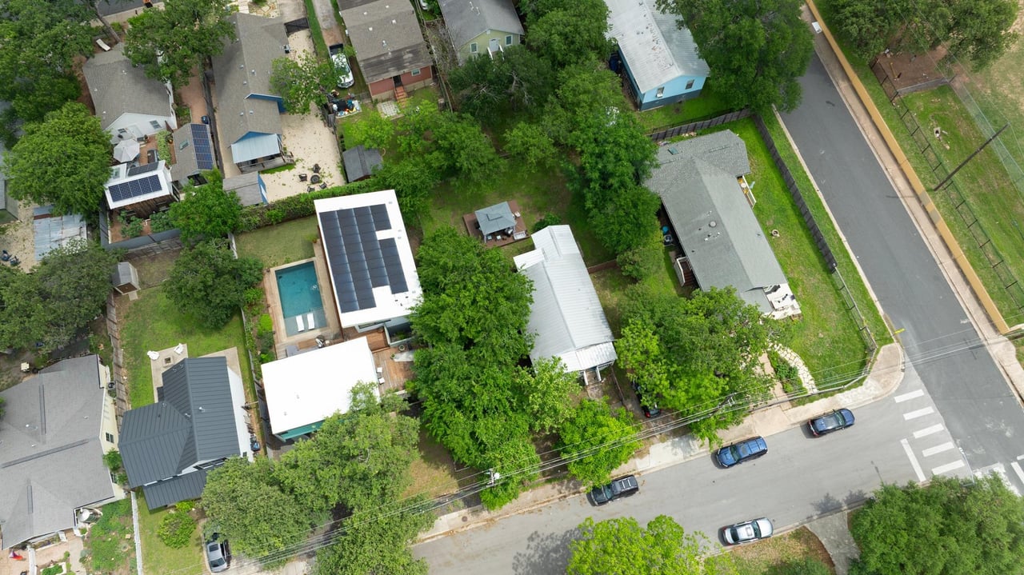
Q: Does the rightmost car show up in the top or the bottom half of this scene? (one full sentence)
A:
You can find the rightmost car in the bottom half.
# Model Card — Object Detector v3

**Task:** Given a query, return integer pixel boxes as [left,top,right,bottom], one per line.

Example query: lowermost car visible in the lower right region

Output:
[720,516,774,548]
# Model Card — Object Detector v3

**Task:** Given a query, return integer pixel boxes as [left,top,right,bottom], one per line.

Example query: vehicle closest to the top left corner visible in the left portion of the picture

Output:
[328,46,355,87]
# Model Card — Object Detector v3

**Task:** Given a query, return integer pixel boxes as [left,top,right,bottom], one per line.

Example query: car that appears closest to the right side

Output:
[805,409,854,438]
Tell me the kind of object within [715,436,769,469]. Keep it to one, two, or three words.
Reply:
car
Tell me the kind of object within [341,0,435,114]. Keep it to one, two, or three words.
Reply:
house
